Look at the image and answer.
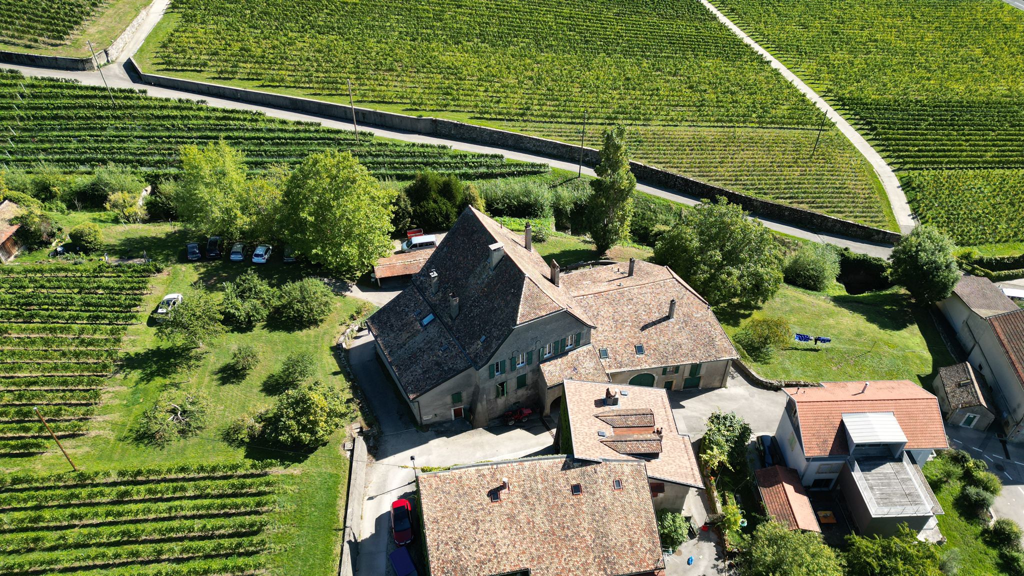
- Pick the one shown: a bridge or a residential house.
residential house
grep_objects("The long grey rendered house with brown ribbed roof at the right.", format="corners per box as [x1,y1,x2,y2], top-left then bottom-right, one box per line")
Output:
[934,275,1024,360]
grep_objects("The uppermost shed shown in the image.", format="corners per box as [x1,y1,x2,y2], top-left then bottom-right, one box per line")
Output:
[0,200,28,267]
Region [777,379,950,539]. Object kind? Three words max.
house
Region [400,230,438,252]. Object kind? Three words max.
vehicle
